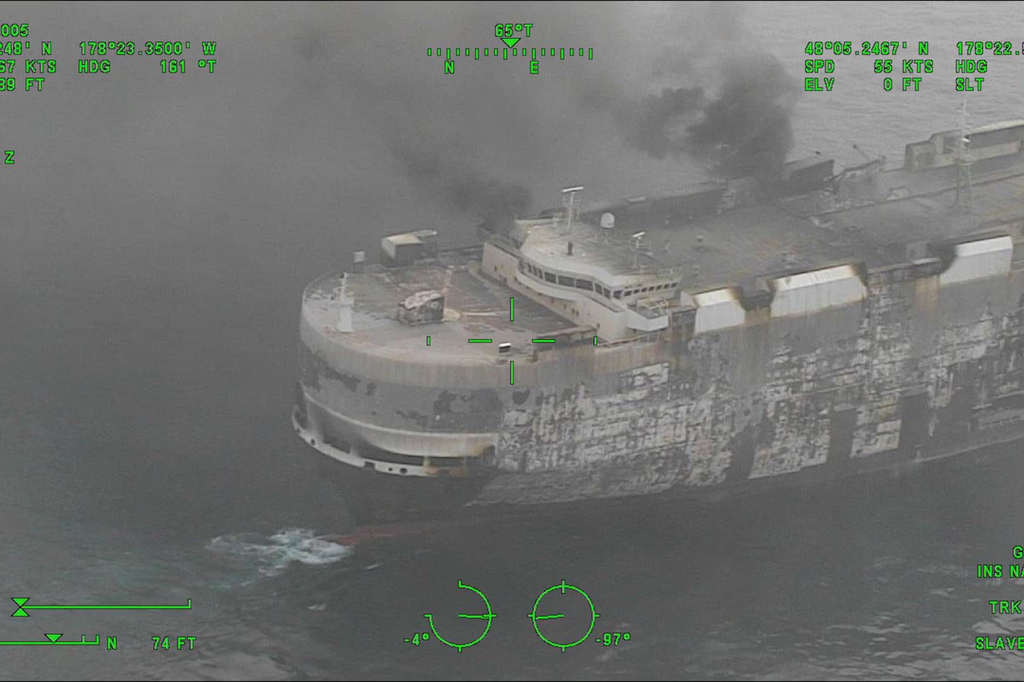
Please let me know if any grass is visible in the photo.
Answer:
No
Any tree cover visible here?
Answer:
No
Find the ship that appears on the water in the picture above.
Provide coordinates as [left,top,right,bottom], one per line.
[295,97,1024,537]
